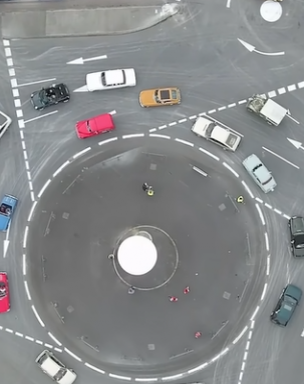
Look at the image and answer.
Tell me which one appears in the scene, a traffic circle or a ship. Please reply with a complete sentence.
Visible in the photo is a traffic circle.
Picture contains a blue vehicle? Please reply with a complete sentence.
Yes, there's a blue vehicle here.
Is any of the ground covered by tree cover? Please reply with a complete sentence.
No, there's no tree cover in this view.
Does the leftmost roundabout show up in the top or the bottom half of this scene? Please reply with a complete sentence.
Seen from above, the leftmost roundabout lies in the bottom half of the view.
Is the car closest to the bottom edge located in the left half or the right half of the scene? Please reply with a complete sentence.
It is on the left.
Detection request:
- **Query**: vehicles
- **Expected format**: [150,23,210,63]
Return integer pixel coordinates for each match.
[0,195,18,231]
[290,216,304,258]
[193,118,239,151]
[37,351,75,384]
[87,68,136,91]
[0,272,11,313]
[243,155,276,193]
[139,86,181,107]
[0,113,11,139]
[246,93,287,126]
[271,285,301,326]
[31,84,69,109]
[76,114,115,138]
